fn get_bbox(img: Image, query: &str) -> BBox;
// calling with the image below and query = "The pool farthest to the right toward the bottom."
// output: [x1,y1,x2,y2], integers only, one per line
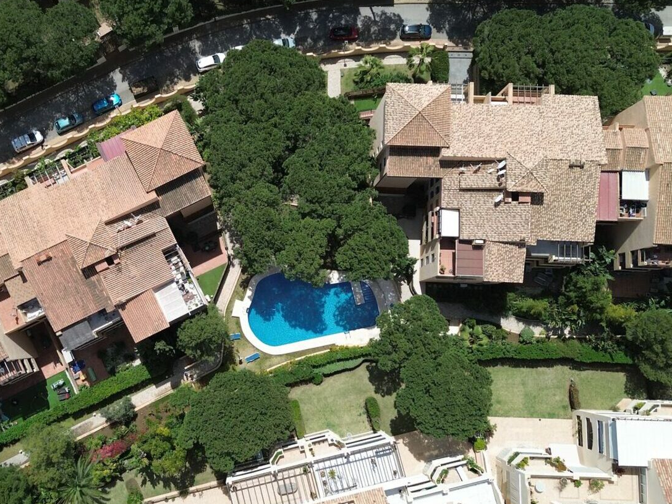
[247,273,379,346]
